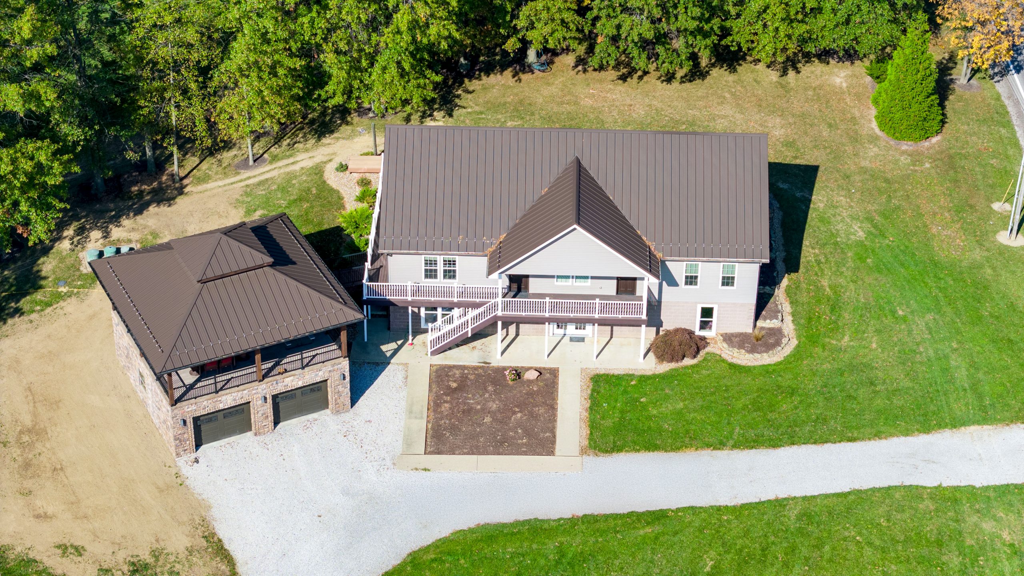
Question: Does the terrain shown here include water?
No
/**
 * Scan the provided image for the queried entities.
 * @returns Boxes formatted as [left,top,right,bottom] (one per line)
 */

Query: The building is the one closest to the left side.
[85,211,369,460]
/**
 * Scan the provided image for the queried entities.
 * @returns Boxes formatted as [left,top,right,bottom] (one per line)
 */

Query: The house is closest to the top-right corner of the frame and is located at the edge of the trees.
[362,124,769,361]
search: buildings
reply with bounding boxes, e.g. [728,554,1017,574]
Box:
[362,124,769,361]
[85,211,369,460]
